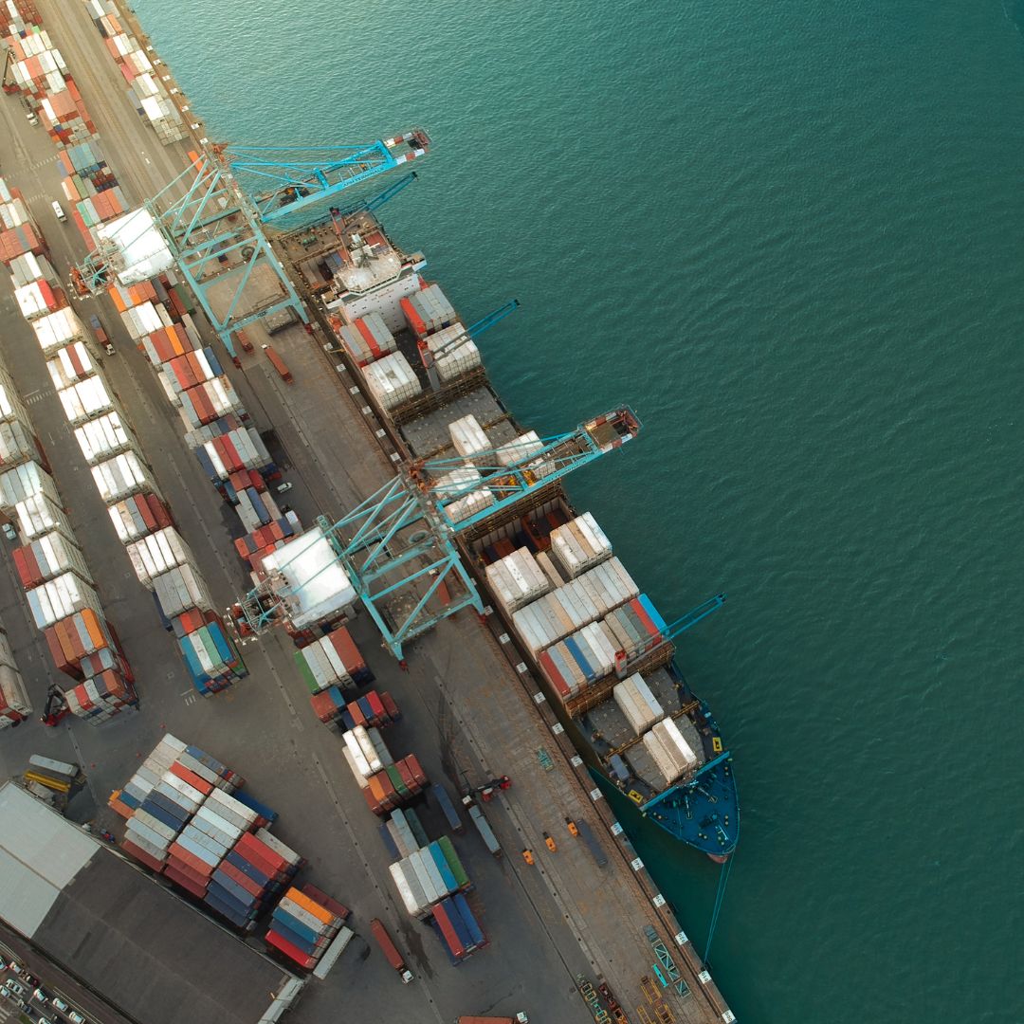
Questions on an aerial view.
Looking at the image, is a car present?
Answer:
Yes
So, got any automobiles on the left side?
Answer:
Yes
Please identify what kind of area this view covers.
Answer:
port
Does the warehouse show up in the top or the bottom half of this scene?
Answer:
bottom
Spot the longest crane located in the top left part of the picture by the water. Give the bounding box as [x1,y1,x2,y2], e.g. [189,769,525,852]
[61,120,433,359]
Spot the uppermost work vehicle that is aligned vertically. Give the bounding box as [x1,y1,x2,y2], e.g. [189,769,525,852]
[2,50,18,101]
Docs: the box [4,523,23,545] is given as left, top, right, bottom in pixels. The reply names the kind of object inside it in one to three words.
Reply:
vehicle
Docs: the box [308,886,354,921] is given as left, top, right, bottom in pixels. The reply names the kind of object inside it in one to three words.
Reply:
shipping container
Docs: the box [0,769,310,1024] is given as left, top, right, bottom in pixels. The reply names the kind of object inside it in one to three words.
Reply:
warehouse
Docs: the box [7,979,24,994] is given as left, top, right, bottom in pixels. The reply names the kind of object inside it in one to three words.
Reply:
car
